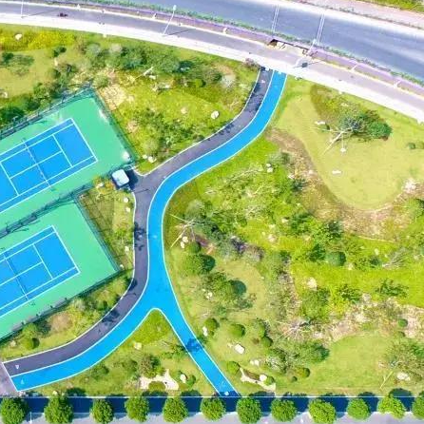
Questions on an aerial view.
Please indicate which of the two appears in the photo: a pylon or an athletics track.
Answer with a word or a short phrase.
athletics track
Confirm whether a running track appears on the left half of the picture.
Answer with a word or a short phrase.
Yes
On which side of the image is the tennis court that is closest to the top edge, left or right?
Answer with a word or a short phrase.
left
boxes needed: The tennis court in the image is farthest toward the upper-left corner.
[0,85,135,231]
